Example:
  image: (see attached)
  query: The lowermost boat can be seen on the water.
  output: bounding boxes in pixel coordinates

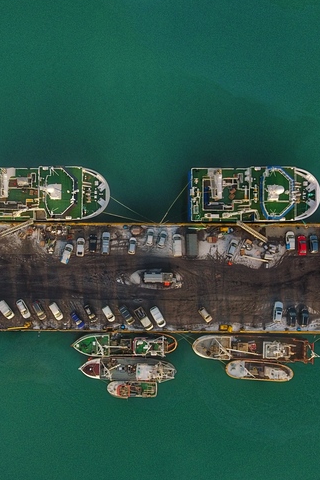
[107,381,158,402]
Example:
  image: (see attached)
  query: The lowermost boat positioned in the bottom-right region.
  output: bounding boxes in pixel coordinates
[226,361,293,381]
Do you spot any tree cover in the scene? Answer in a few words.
No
